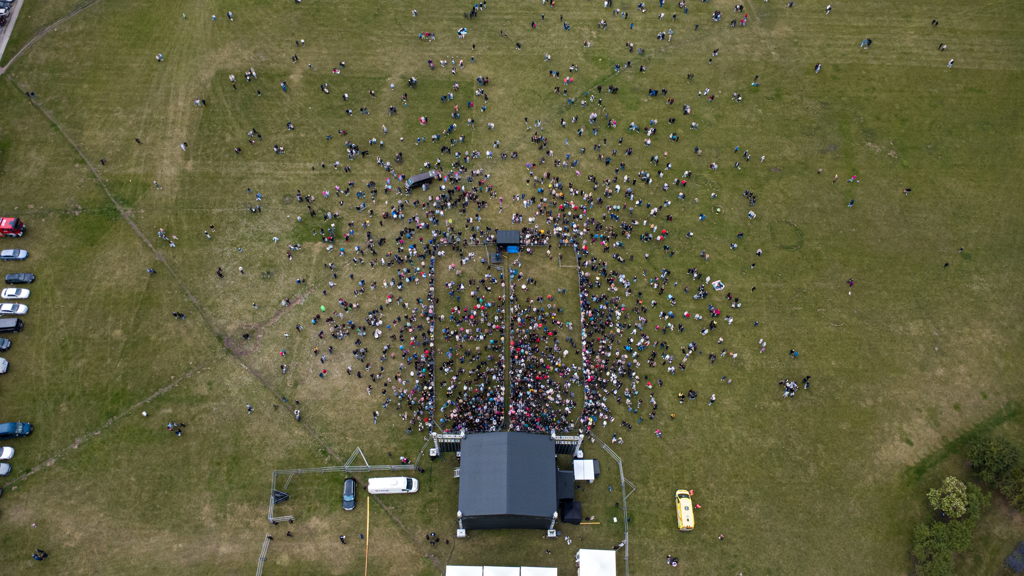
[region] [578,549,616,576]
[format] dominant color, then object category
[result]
white tent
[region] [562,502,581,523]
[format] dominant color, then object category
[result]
black gazebo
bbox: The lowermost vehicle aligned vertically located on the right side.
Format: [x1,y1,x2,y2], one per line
[675,489,693,530]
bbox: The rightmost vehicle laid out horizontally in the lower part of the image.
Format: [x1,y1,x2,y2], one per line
[368,476,419,494]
